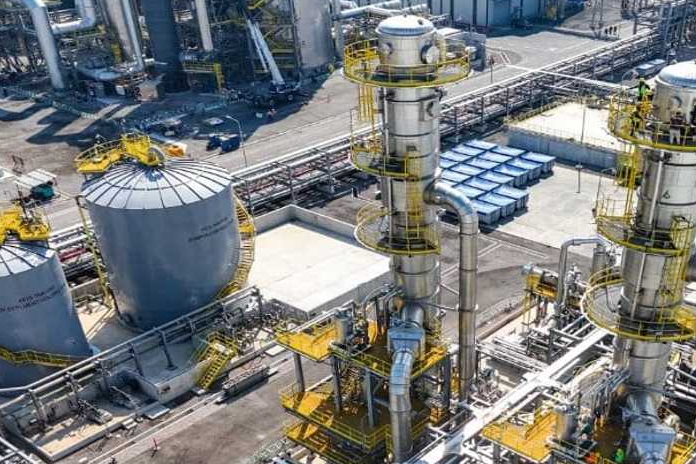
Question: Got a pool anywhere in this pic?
No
